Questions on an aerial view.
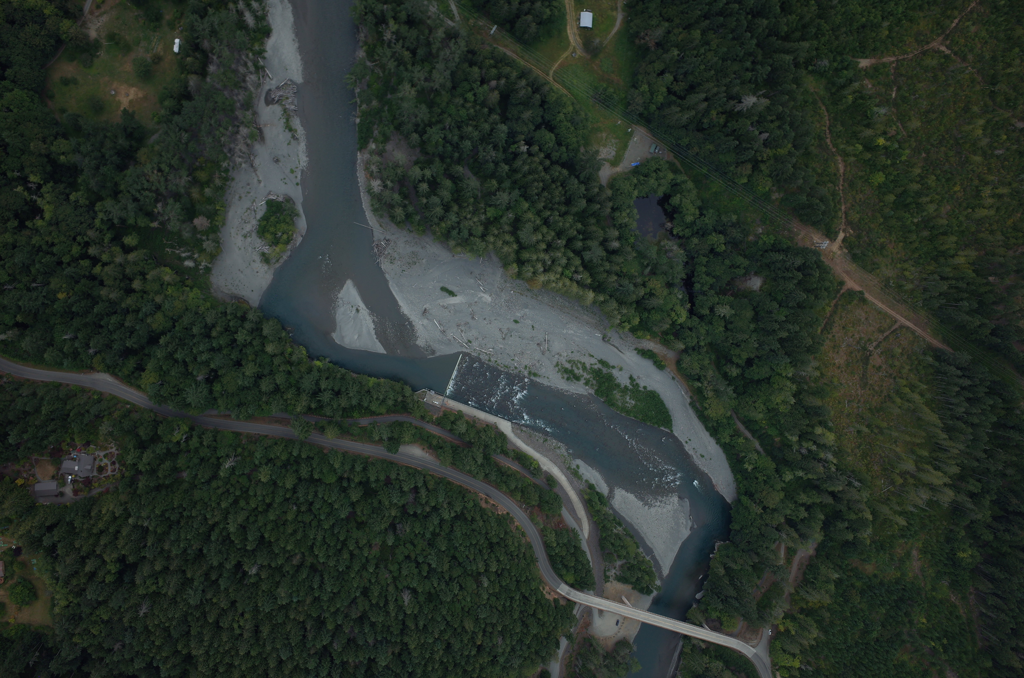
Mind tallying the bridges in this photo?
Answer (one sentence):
There is 1 bridge in the image.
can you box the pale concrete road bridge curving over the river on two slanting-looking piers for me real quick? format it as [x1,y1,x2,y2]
[556,582,756,660]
